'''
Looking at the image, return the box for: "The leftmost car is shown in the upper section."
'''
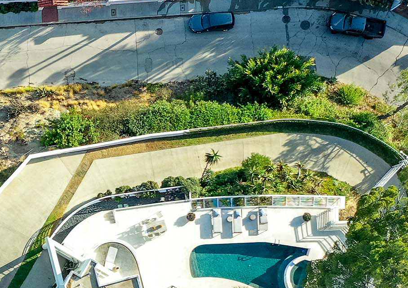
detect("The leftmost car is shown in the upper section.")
[186,10,236,36]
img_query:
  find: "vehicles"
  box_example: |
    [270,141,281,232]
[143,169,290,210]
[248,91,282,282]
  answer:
[325,11,388,42]
[186,10,236,36]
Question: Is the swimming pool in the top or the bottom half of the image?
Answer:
bottom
